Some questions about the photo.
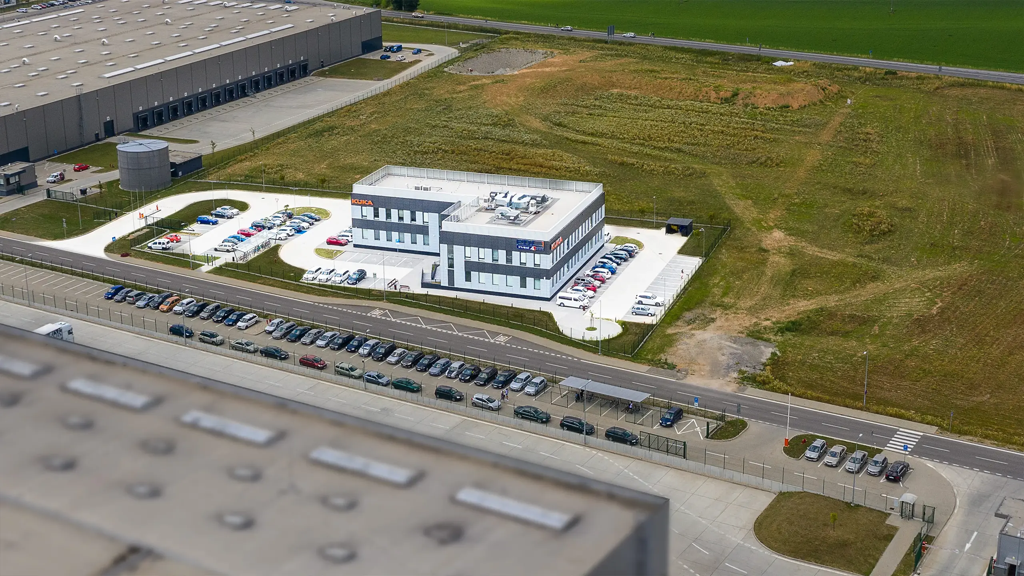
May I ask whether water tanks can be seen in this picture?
Yes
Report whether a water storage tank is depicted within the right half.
No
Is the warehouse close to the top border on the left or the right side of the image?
left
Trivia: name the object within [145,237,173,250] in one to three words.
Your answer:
vehicle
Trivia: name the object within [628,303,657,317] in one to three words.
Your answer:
car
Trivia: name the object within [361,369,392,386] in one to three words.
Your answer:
car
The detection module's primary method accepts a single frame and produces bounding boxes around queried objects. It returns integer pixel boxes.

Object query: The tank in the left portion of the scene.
[117,134,175,192]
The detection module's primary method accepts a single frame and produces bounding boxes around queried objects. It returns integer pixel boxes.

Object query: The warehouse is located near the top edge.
[0,0,405,166]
